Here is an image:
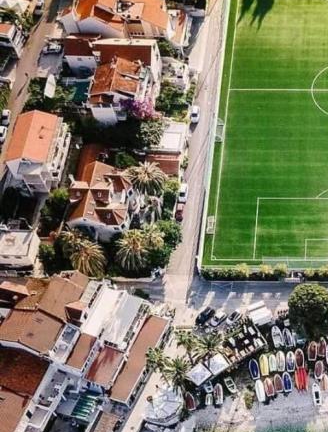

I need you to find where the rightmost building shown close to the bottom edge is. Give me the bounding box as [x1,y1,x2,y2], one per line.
[109,315,172,413]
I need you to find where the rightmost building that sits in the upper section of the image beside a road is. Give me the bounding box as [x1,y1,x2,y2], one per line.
[146,121,189,180]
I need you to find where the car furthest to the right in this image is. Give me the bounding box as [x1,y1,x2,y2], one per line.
[226,307,241,324]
